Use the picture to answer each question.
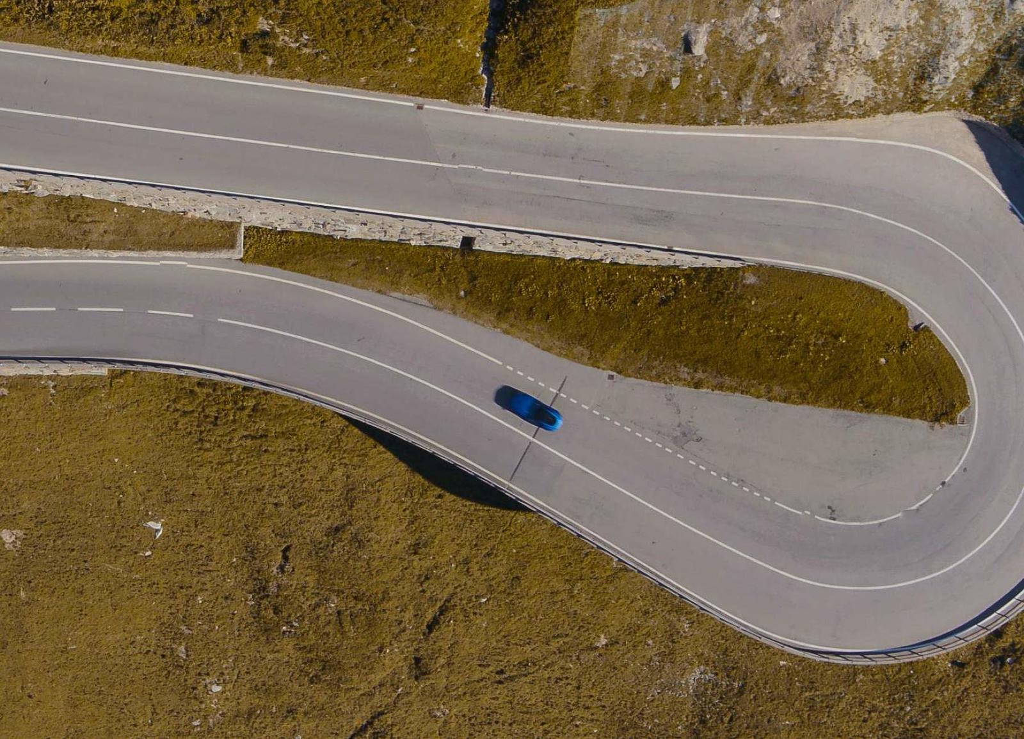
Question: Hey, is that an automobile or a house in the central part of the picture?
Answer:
automobile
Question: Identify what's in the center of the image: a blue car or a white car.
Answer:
blue car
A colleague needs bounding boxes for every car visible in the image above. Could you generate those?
[511,393,565,433]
